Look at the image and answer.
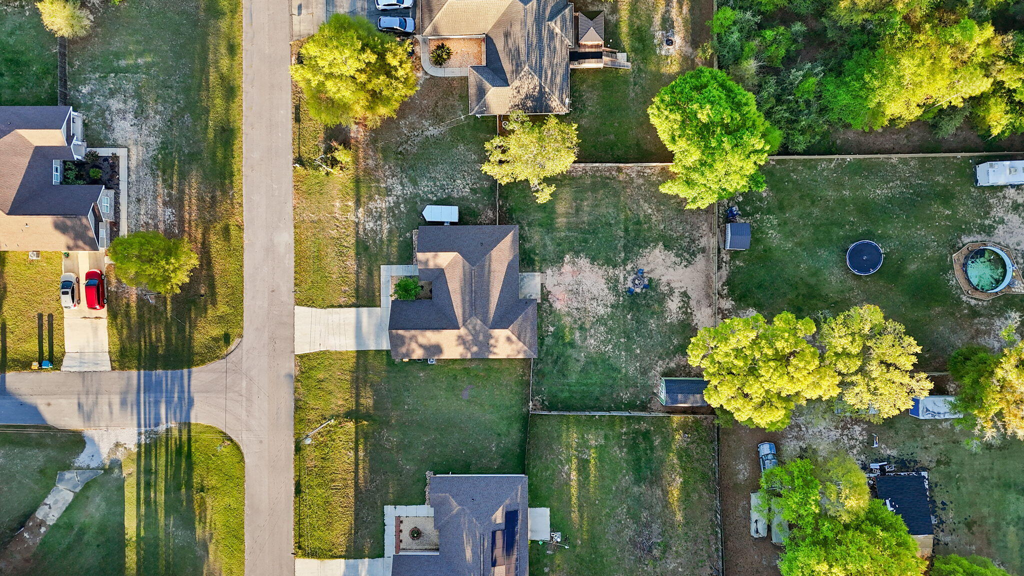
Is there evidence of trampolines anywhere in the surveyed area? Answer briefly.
Yes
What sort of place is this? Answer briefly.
residential area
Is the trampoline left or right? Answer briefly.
right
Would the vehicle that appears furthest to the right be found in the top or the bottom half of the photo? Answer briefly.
top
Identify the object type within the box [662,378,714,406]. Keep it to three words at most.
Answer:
shed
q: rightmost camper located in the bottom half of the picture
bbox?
[911,394,965,419]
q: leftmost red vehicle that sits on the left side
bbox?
[84,270,105,307]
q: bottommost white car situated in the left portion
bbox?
[58,270,80,307]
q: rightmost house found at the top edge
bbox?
[420,0,574,117]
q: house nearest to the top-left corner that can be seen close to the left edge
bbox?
[0,106,114,251]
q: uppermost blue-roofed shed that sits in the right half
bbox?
[725,223,751,249]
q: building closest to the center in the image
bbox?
[388,224,538,359]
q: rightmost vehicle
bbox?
[971,161,1024,189]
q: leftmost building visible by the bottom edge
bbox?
[389,473,528,576]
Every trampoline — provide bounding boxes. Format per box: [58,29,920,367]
[845,239,883,276]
